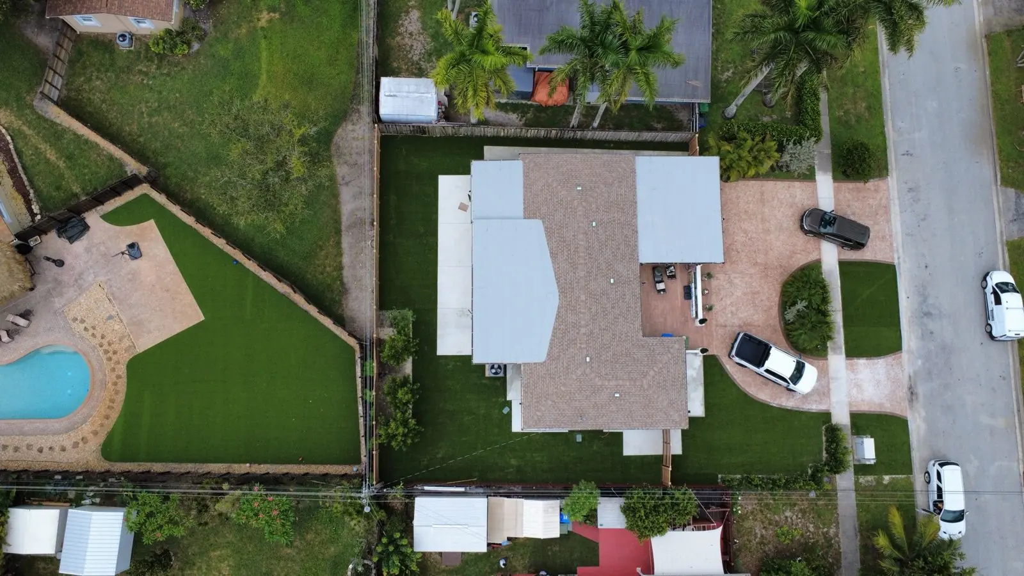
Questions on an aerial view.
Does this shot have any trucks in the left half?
No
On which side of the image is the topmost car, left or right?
right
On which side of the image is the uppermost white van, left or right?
right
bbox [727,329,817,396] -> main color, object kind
white truck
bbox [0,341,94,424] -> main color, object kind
blue swimming pool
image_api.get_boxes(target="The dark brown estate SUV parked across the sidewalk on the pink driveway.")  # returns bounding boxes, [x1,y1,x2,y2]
[799,204,875,253]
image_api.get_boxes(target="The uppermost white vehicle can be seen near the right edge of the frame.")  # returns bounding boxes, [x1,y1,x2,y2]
[983,270,1024,343]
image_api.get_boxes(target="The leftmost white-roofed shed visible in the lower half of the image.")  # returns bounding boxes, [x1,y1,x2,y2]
[3,504,78,554]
